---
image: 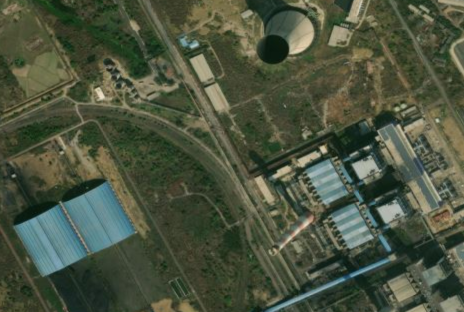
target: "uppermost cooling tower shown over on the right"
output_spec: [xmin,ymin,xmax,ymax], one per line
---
[257,3,320,65]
